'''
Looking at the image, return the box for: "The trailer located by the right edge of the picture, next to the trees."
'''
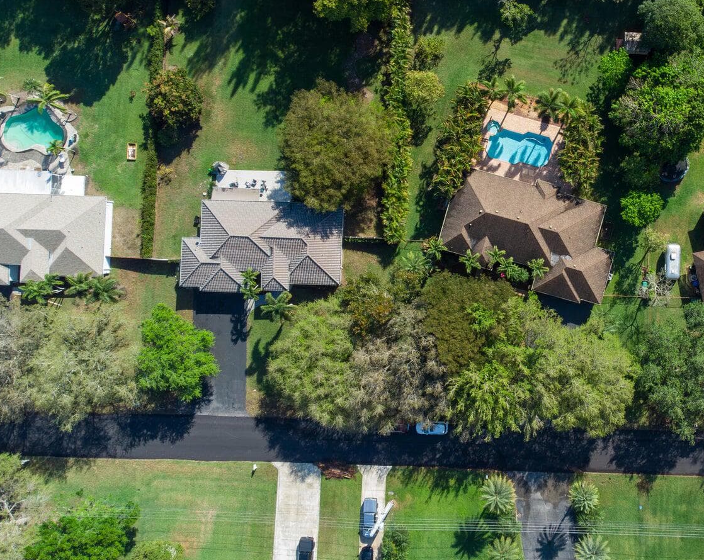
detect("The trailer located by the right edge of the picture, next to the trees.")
[663,237,682,280]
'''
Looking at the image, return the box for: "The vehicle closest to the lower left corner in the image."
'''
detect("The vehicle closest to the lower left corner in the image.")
[299,535,316,560]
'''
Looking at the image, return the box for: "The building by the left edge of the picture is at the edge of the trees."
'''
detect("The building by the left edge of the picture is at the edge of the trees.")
[0,193,114,284]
